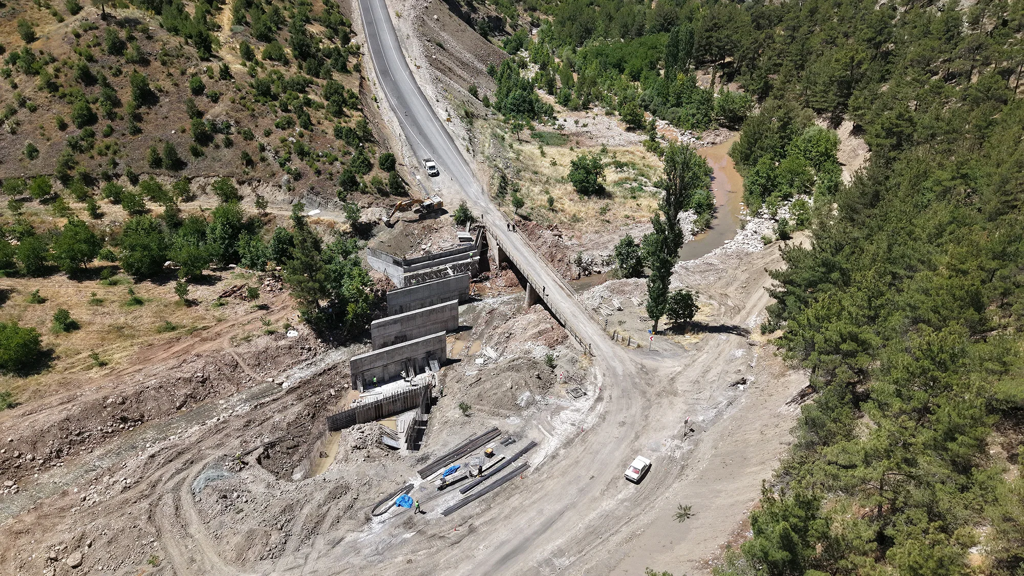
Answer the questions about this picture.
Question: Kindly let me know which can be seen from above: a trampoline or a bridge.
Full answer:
Visible in the photo is a bridge.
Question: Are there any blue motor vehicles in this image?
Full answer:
No, the frame has no blue motor vehicle in it.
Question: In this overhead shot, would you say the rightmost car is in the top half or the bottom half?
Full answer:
Seen from above, the rightmost car lies in the bottom half of the view.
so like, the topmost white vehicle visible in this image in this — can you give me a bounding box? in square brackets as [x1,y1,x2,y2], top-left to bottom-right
[422,160,439,175]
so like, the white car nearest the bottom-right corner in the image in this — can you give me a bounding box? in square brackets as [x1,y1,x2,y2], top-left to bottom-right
[623,450,653,481]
